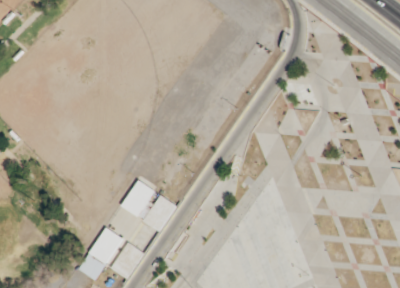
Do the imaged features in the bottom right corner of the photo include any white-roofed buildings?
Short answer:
No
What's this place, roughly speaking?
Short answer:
sports ground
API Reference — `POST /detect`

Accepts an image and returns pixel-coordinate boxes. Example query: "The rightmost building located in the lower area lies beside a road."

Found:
[143,196,180,232]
